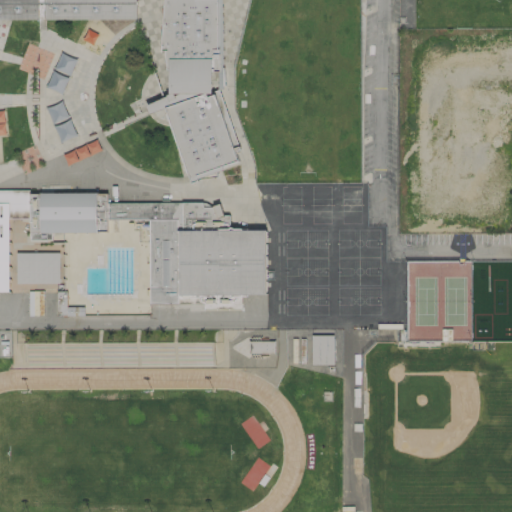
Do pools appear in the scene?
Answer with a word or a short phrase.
Yes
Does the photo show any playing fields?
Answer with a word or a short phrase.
Yes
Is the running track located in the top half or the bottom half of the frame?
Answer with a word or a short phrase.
bottom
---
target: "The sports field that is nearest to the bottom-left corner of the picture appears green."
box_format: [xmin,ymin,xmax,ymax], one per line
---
[0,390,284,512]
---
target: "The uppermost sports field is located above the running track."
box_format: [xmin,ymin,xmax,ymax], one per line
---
[236,0,362,183]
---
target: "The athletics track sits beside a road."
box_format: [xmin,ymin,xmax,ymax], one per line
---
[0,369,306,512]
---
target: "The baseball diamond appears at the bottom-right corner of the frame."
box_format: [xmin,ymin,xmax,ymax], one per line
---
[364,344,512,512]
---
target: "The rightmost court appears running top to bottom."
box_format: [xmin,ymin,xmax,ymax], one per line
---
[474,262,512,342]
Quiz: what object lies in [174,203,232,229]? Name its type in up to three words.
building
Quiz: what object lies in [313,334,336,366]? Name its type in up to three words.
shed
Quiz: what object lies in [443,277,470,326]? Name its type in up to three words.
tennis court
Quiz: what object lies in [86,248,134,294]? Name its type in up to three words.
swimming pool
